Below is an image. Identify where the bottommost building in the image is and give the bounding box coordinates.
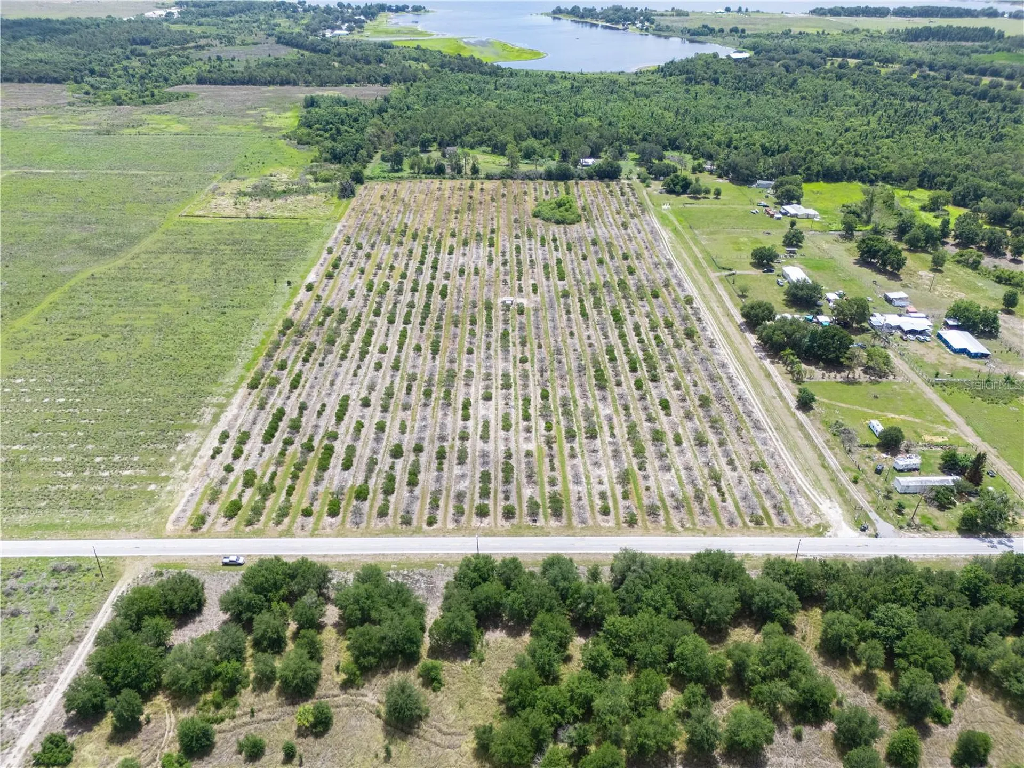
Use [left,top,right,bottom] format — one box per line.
[893,476,957,493]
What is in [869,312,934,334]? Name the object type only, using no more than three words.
building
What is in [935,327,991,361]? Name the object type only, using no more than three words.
house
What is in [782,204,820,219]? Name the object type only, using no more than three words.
house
